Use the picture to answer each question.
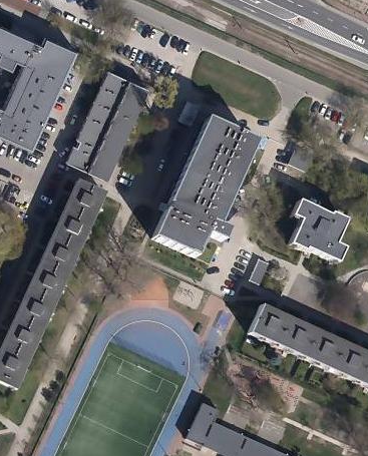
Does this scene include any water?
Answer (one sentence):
No, there's no water in this view.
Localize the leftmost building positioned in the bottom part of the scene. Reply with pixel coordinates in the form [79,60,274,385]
[0,179,107,389]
